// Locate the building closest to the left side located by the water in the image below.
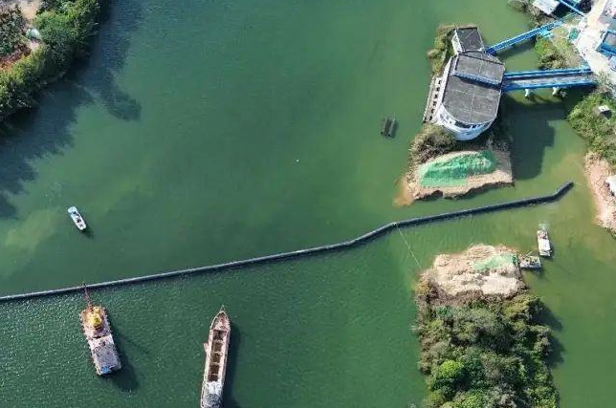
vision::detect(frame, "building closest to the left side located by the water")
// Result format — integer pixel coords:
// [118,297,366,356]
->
[420,27,506,141]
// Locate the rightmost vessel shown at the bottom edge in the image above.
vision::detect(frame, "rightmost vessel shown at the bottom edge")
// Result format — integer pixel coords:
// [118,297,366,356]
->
[200,306,233,408]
